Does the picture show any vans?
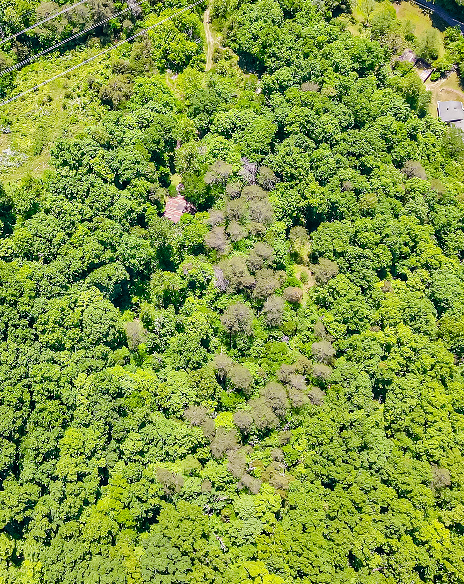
No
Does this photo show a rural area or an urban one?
rural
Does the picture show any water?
No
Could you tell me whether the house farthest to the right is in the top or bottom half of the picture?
top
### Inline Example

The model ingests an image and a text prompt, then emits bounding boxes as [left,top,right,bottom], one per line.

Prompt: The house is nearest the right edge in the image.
[436,101,464,152]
